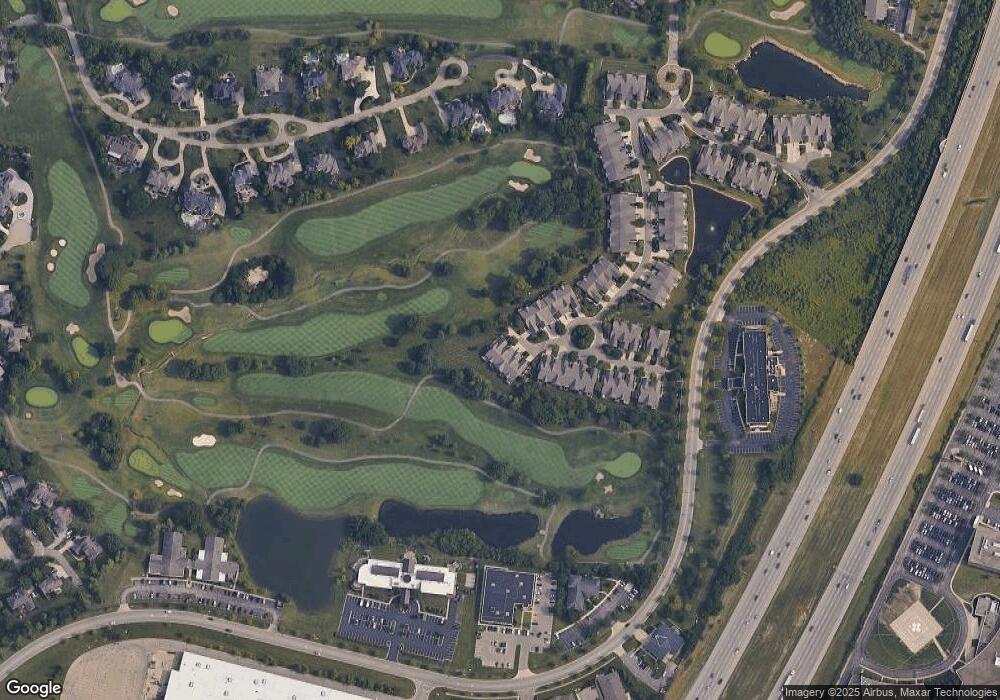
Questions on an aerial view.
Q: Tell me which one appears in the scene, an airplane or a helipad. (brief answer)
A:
helipad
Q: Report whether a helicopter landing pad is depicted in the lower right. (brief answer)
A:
Yes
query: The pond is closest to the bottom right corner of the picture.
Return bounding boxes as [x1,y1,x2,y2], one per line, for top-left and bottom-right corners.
[552,511,643,558]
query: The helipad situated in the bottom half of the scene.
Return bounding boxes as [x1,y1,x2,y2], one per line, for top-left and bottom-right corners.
[891,597,947,659]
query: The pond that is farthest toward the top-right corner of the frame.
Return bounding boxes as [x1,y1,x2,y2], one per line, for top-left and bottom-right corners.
[736,43,868,102]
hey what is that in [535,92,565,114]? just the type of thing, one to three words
house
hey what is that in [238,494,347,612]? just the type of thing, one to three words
pond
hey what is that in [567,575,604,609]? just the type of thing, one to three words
building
